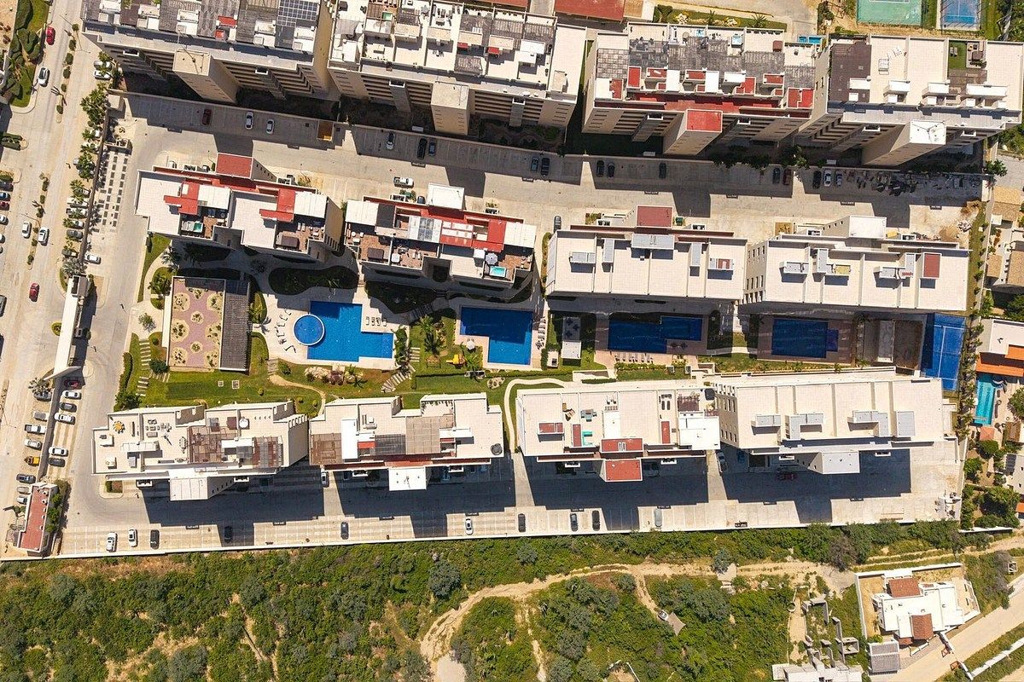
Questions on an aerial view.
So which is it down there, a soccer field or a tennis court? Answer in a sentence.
This aerial view contains a tennis court.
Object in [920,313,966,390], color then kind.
blue tennis court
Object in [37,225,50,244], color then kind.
white vehicle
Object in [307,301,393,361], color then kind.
blue swimming pool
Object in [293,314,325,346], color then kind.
blue swimming pool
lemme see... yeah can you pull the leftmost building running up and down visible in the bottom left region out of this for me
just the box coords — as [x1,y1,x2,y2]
[18,481,65,552]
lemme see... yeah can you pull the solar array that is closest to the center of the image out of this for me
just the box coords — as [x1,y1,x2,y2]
[417,217,434,240]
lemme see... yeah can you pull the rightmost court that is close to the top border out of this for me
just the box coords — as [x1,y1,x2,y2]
[937,0,981,30]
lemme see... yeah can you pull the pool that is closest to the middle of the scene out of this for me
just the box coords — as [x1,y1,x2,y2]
[460,307,533,365]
